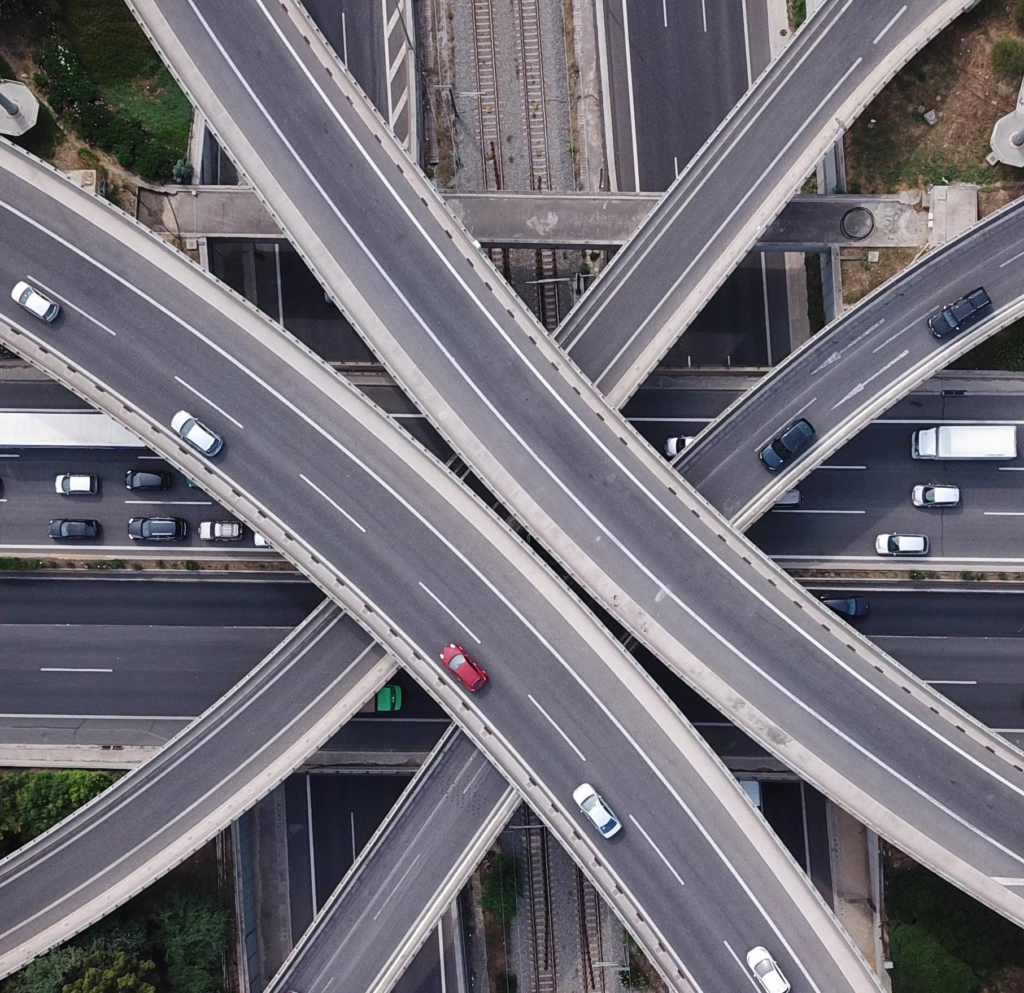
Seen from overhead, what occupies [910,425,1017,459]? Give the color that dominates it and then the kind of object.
white truck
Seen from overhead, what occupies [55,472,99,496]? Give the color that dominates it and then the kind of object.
white car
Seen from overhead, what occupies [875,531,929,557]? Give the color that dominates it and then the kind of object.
white car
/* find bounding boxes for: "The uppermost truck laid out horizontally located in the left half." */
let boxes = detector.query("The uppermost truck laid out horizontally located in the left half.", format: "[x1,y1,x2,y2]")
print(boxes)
[0,415,151,451]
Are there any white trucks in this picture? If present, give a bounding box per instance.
[0,415,151,451]
[910,425,1017,459]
